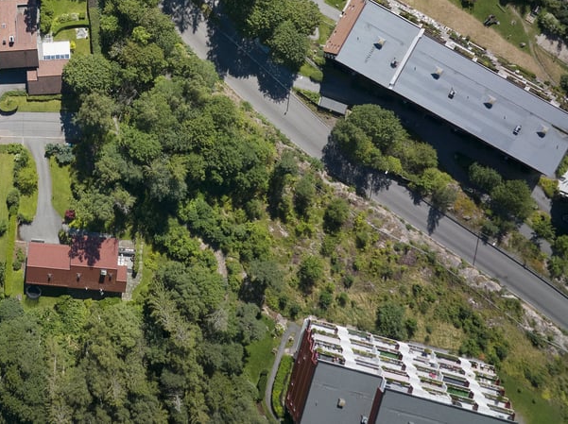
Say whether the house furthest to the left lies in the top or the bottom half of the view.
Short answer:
top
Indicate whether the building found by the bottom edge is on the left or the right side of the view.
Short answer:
right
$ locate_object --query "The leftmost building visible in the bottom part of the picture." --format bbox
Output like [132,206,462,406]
[25,231,127,292]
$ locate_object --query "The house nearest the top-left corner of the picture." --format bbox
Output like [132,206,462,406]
[0,0,39,69]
